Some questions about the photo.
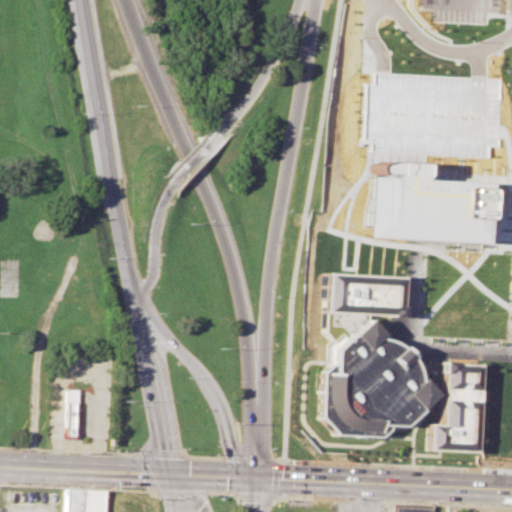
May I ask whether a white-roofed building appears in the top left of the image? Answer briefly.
No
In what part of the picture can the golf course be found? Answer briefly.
left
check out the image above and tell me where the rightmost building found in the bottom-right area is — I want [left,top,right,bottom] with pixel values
[426,362,486,450]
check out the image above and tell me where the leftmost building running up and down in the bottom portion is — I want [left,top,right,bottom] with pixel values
[64,389,81,438]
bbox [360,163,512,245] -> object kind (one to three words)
building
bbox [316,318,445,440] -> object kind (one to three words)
building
